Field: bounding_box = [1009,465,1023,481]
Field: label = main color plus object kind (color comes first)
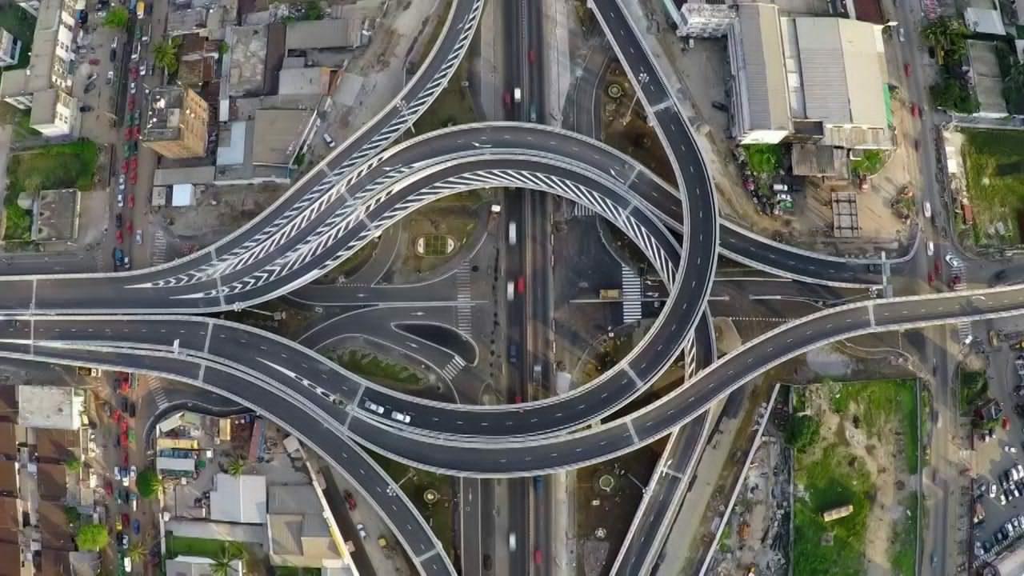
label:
white vehicle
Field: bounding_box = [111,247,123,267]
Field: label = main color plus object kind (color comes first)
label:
blue vehicle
